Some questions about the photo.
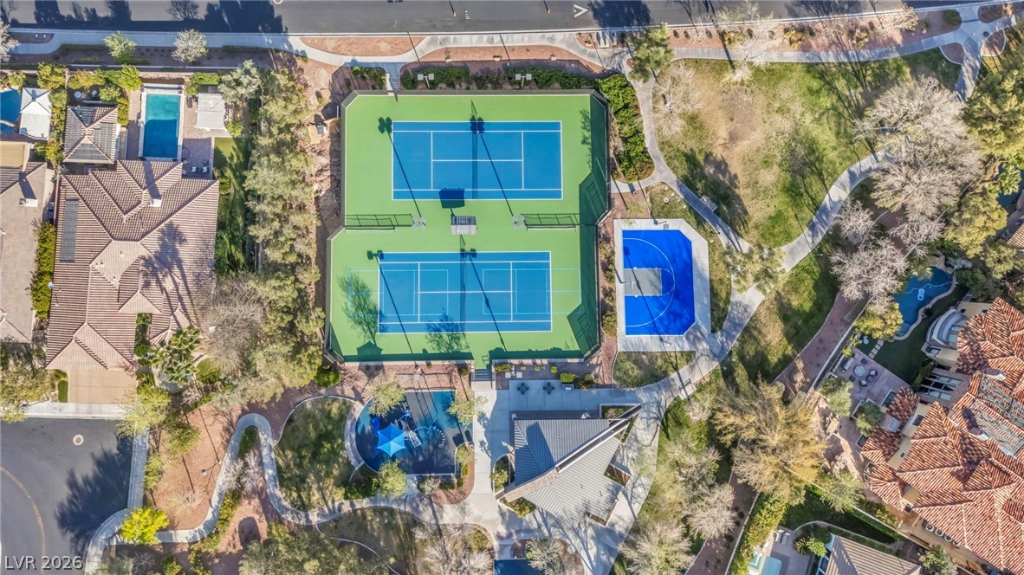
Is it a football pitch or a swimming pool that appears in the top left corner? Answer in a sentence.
It is a swimming pool that can be seen in the top left corner.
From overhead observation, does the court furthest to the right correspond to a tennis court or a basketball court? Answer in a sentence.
The court furthest to the right appears to be a basketball court.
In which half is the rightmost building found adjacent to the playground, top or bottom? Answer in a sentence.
The rightmost building found adjacent to the playground is in the bottom half of the image.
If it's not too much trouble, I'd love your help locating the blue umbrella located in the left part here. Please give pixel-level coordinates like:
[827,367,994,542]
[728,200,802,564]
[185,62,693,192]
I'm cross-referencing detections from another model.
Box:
[376,422,406,456]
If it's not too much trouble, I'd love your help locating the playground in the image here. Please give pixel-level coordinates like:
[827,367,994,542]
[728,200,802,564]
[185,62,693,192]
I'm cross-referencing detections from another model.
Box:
[344,390,457,477]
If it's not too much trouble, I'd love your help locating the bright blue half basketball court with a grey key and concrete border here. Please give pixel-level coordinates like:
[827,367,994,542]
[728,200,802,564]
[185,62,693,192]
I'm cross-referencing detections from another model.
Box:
[614,219,714,351]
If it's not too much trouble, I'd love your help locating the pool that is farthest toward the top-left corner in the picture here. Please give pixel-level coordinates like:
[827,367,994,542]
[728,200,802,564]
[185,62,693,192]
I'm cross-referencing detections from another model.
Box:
[0,87,22,131]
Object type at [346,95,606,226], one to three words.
tennis court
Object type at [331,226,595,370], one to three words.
tennis court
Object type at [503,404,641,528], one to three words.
building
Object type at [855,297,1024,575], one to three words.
house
